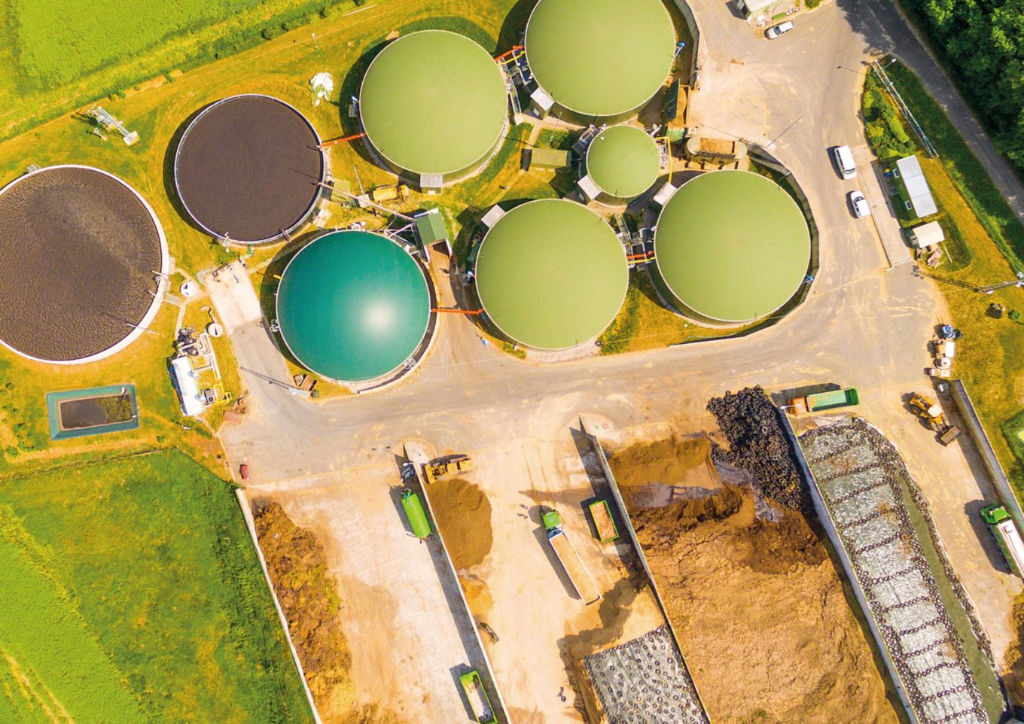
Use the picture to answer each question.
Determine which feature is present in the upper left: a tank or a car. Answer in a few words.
tank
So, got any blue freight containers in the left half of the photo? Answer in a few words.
No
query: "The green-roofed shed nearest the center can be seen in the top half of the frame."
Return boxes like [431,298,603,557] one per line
[417,212,448,252]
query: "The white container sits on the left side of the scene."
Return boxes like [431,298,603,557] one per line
[172,357,210,415]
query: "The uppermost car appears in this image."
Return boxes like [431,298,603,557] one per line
[764,18,797,41]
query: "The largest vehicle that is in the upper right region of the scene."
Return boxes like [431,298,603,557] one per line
[835,143,857,180]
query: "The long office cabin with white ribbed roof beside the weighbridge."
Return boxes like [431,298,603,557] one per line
[887,155,937,223]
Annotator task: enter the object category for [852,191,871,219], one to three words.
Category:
car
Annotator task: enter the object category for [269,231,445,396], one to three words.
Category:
storage tank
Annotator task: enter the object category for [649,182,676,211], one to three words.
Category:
shed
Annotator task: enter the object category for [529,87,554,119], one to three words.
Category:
shed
